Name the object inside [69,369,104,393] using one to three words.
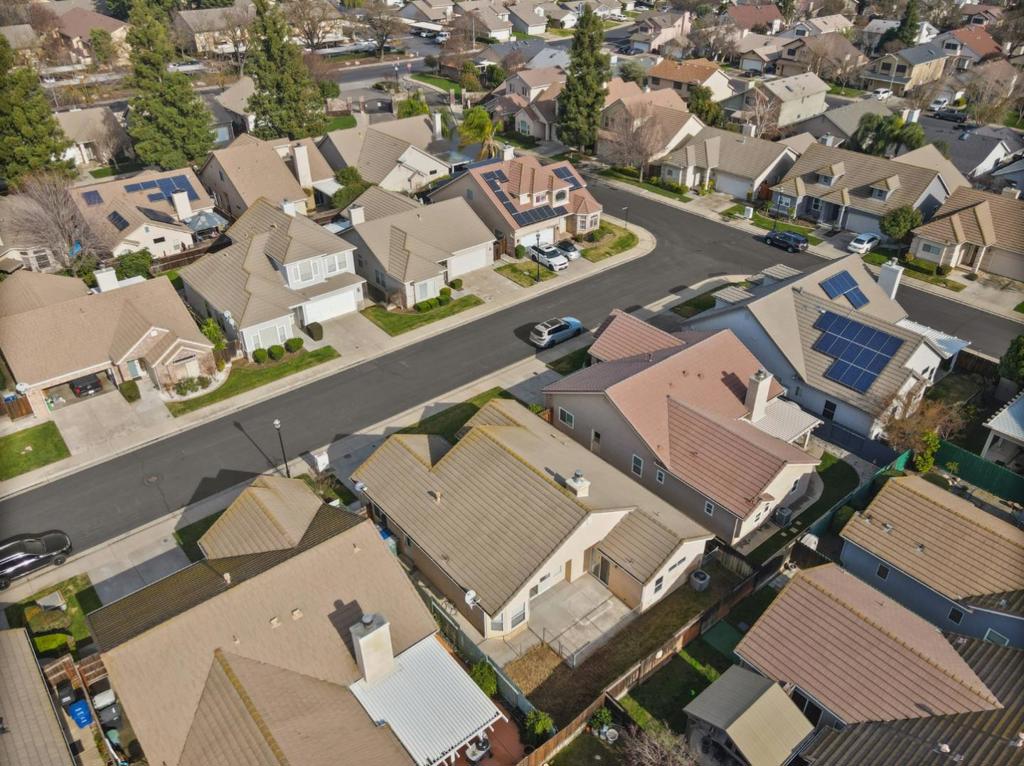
car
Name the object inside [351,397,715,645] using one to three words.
house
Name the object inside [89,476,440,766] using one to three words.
house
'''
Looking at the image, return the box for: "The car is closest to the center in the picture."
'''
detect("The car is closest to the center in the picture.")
[530,317,584,348]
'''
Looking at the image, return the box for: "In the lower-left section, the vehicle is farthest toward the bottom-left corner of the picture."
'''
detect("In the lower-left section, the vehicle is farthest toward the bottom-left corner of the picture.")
[0,529,75,586]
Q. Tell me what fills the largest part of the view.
buildings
